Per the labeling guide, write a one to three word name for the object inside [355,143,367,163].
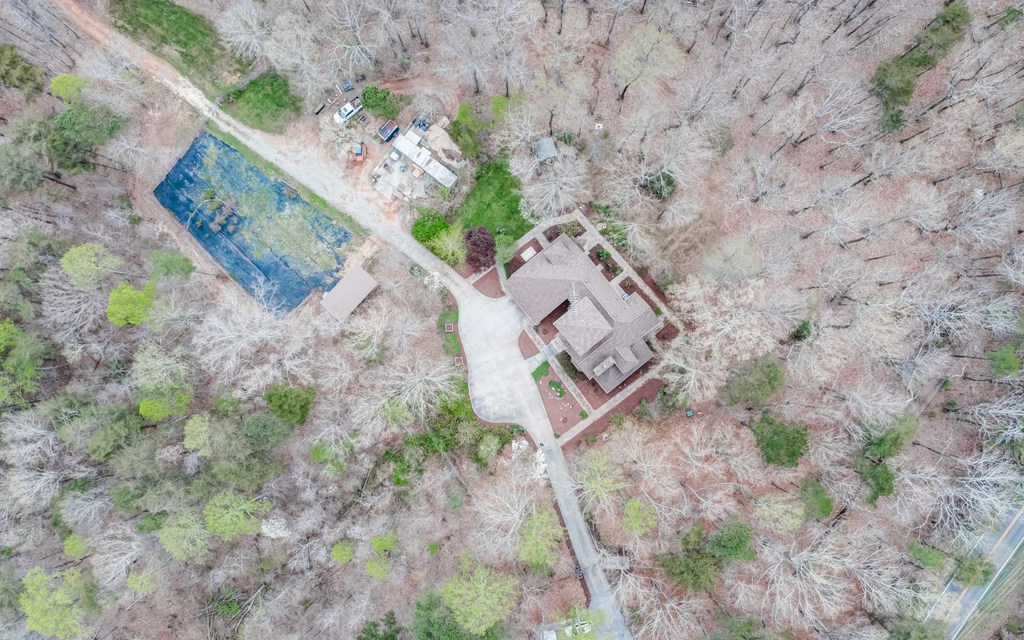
vehicle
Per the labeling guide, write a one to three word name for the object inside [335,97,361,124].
truck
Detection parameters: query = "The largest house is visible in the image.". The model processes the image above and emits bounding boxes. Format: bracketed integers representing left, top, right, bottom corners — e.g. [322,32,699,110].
[502,232,661,395]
